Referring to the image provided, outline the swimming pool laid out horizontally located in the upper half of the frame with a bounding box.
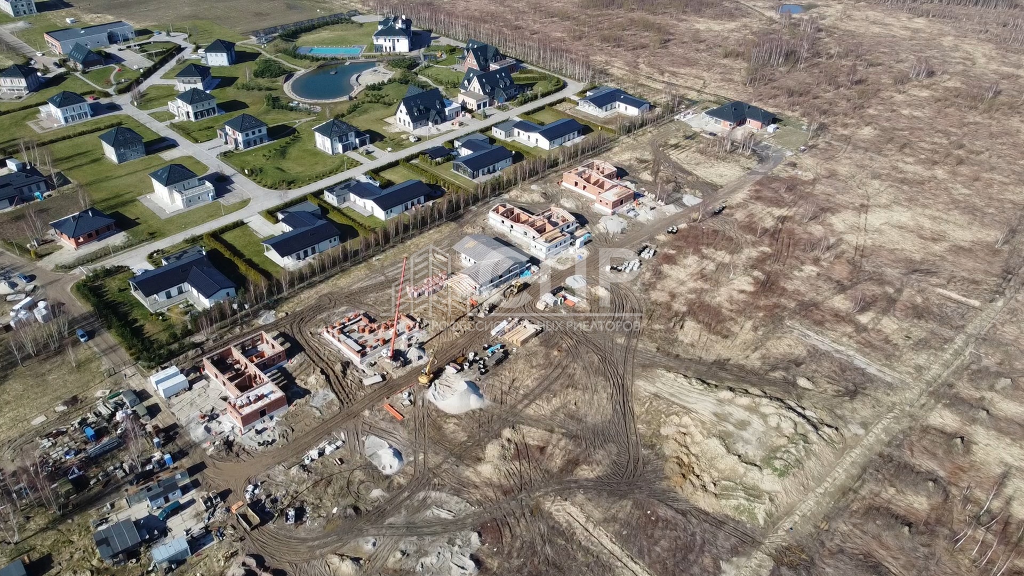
[296,44,363,57]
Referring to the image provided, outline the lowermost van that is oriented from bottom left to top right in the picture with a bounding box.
[156,500,190,528]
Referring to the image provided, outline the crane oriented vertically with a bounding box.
[367,255,411,371]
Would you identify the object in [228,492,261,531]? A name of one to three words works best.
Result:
truck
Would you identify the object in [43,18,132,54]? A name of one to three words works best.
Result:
building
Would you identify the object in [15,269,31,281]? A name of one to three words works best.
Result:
vehicle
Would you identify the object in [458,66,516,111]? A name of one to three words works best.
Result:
house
